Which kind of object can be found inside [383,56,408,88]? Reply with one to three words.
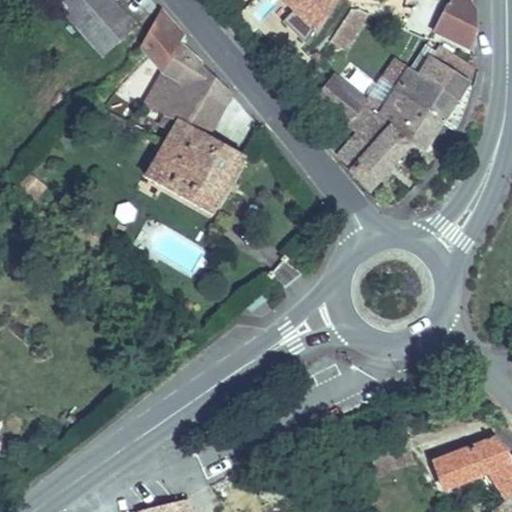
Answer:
shed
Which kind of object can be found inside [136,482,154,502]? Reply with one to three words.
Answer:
car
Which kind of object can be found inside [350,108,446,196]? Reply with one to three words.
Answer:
house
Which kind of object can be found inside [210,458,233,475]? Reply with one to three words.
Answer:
car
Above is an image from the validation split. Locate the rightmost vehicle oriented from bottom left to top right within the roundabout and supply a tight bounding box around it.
[410,318,431,334]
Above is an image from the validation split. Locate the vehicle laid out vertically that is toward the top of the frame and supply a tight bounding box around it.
[480,32,492,56]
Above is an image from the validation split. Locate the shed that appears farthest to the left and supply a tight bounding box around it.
[22,174,48,198]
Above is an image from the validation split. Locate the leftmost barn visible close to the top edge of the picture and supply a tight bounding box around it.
[63,0,137,60]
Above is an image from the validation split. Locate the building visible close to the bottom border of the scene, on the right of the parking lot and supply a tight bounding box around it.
[432,436,512,512]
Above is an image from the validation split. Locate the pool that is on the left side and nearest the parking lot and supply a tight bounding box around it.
[134,220,208,278]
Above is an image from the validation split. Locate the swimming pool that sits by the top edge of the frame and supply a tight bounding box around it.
[248,0,282,24]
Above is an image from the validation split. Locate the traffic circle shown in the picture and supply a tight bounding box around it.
[330,228,456,354]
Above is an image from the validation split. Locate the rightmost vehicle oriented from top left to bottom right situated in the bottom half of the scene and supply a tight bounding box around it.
[335,347,356,366]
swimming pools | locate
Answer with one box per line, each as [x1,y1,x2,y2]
[248,0,282,24]
[134,220,208,278]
